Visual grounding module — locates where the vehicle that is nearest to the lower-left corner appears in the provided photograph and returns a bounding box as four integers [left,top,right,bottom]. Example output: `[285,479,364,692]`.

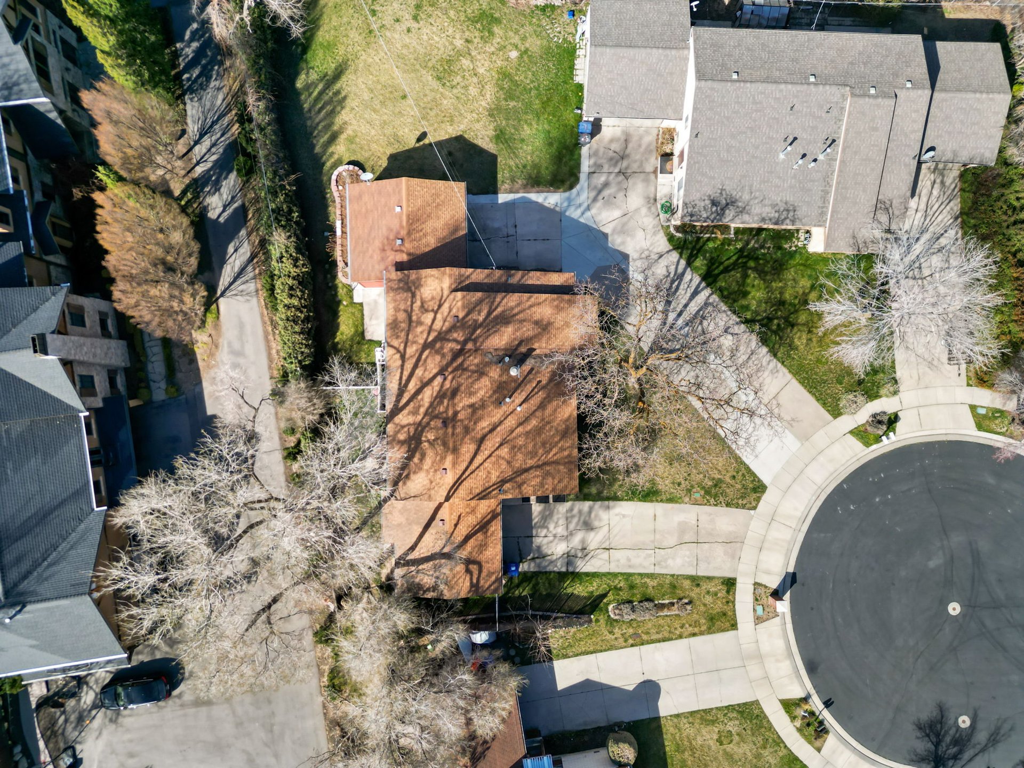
[94,679,167,720]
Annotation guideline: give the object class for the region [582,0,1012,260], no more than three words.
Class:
house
